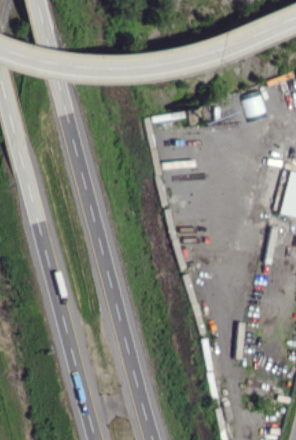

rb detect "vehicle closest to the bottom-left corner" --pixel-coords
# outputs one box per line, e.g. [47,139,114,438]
[72,372,88,414]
